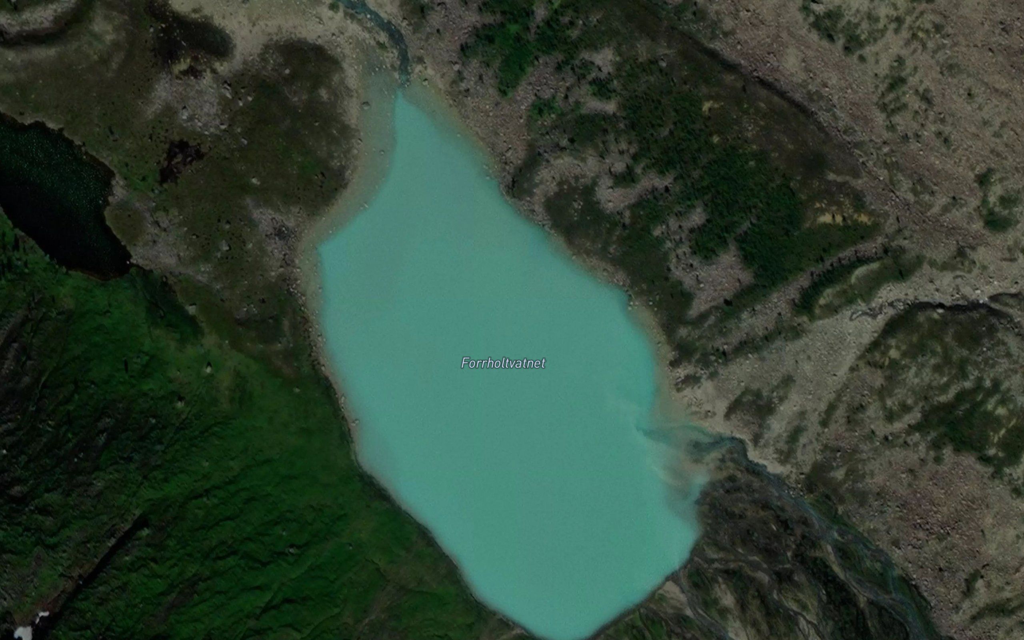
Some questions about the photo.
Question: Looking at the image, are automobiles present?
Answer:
No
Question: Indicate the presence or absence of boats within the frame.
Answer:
No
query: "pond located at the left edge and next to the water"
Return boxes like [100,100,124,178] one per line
[0,111,134,280]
